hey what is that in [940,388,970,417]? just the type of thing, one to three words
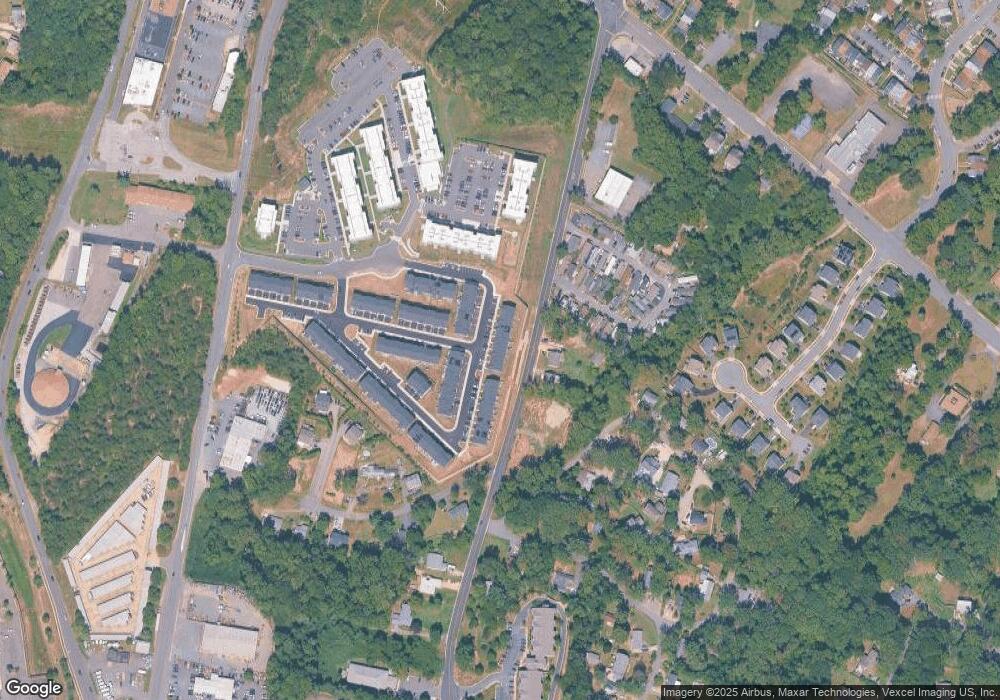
house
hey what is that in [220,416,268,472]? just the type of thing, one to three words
building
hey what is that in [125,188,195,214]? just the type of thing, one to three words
shed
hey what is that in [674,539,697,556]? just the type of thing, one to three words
house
